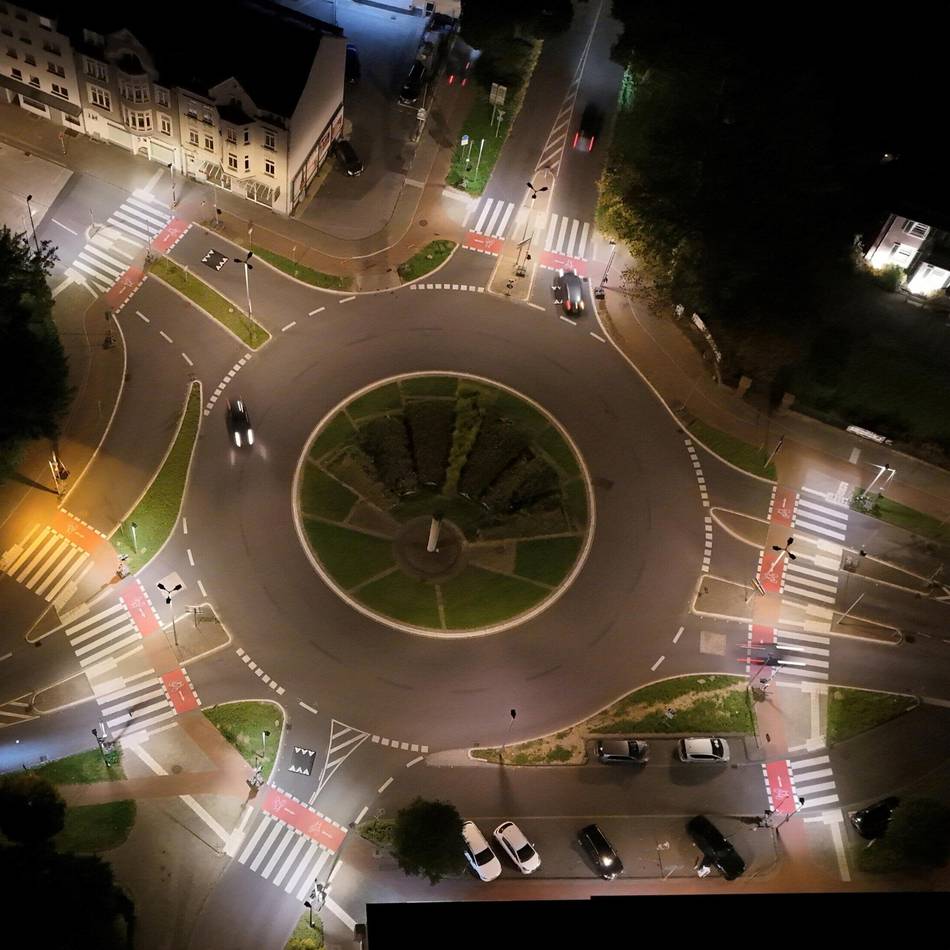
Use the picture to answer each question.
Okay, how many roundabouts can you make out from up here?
1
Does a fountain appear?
No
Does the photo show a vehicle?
Yes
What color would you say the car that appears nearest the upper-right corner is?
black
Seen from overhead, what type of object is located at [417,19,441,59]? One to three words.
car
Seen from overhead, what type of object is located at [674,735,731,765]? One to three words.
car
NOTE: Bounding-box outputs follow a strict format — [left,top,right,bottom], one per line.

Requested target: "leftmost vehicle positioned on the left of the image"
[225,395,255,446]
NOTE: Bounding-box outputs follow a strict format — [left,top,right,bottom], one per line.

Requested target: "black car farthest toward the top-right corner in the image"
[574,106,602,146]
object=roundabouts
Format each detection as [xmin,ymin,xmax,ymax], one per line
[207,307,678,722]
